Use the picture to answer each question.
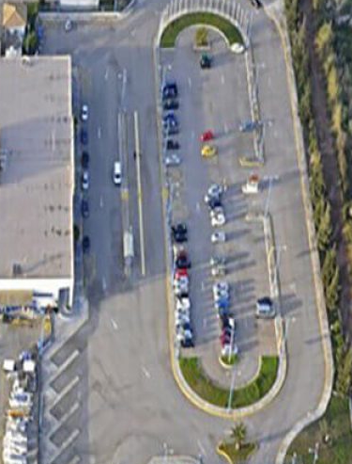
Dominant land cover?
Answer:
paved ground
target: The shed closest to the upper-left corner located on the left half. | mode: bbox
[3,6,26,35]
